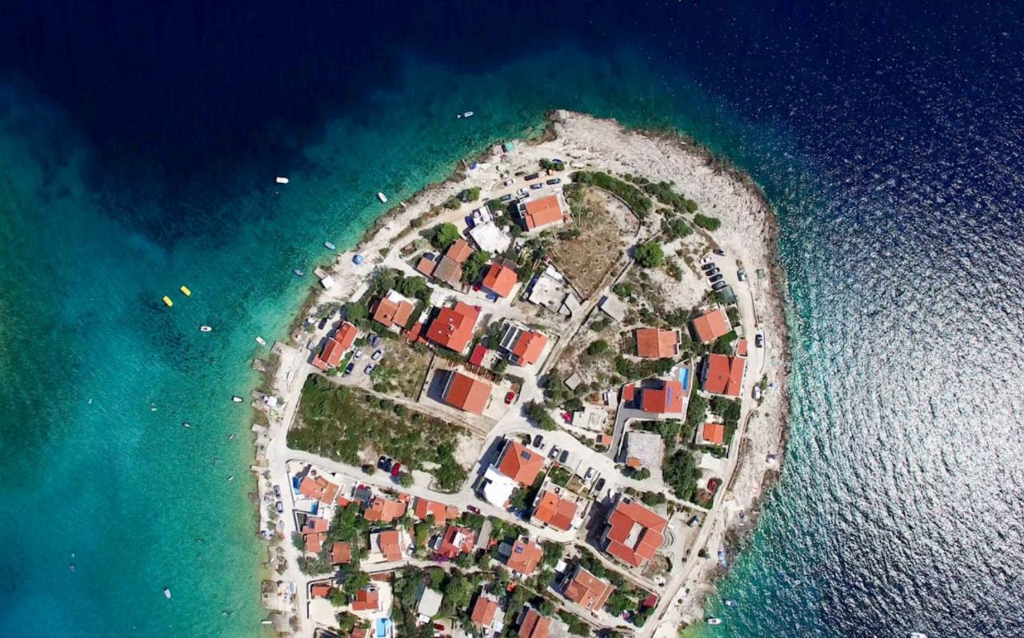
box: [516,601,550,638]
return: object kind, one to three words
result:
house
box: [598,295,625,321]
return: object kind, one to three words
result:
shed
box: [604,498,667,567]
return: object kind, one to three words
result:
building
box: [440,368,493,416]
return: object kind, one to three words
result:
house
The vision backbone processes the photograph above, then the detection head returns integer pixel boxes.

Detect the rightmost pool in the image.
[677,368,690,391]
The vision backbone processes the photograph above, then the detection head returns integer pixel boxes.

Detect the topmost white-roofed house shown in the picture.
[470,206,511,255]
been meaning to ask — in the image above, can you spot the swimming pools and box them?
[677,368,690,391]
[376,617,387,638]
[310,501,319,515]
[292,476,302,496]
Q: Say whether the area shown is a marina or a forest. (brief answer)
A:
marina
